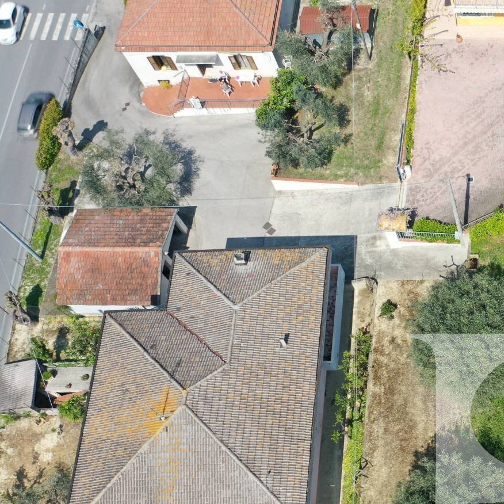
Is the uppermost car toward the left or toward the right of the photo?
left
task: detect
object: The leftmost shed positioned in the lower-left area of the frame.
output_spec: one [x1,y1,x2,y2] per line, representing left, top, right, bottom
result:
[0,359,52,428]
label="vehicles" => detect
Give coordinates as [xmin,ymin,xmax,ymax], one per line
[0,5,25,42]
[14,94,51,136]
